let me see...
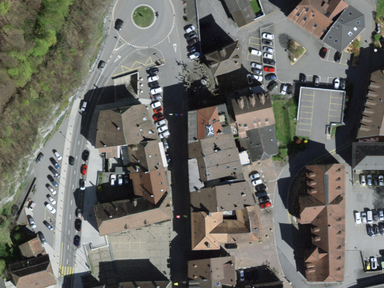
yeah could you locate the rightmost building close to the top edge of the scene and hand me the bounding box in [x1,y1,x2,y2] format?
[322,6,366,51]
